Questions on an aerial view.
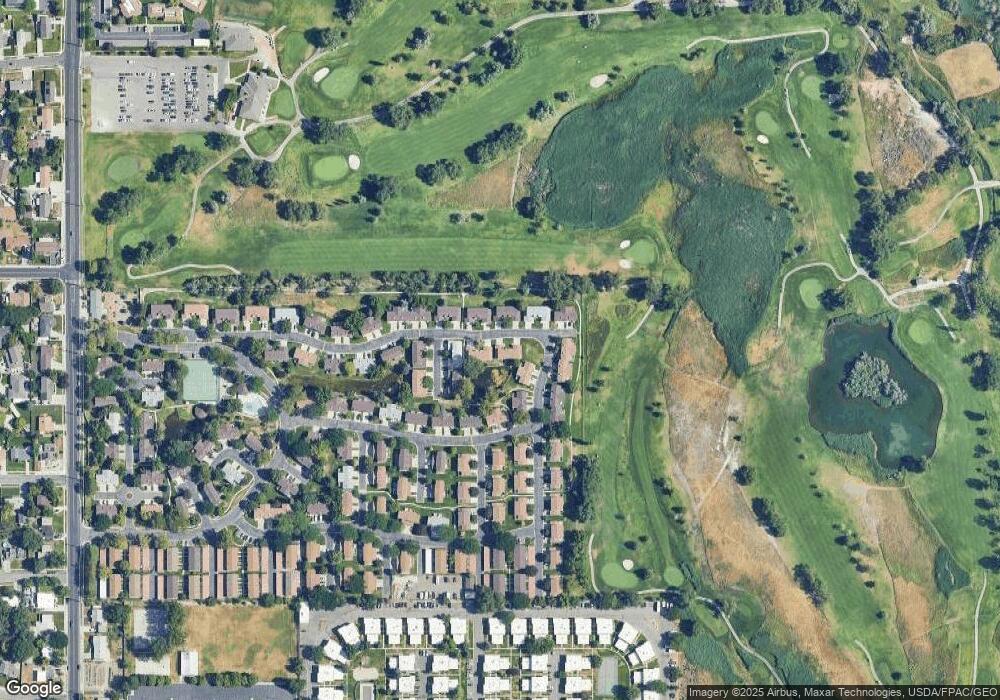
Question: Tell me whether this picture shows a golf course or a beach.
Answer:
golf course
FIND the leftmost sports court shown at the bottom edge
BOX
[134,608,170,676]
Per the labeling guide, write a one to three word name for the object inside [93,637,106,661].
building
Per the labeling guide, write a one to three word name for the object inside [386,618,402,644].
house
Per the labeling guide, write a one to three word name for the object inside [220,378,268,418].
swimming pool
